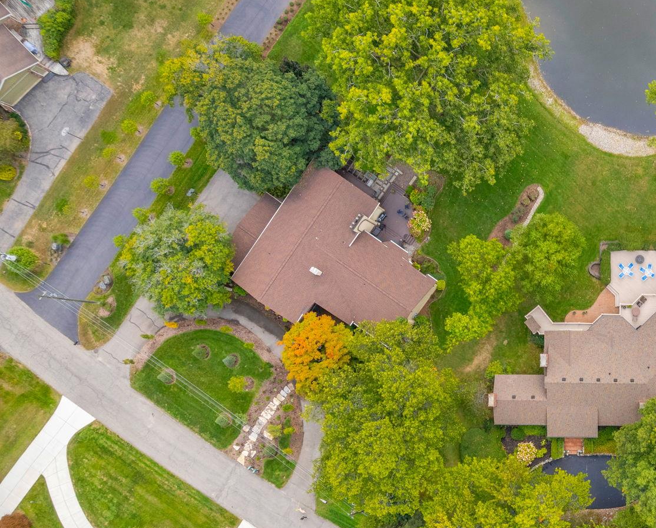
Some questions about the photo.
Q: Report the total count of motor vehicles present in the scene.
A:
zero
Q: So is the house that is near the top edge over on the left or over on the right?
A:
left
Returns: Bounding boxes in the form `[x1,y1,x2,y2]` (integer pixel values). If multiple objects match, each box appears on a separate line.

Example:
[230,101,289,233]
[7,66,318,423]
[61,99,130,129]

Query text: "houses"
[231,158,438,343]
[0,8,54,107]
[488,312,656,438]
